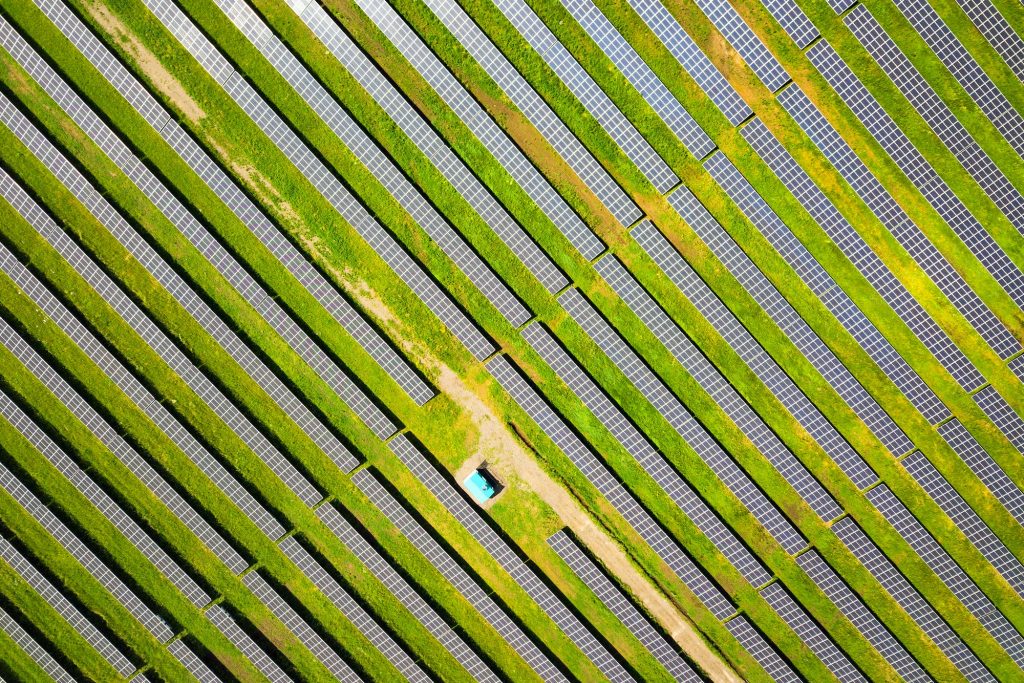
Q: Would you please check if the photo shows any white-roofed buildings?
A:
No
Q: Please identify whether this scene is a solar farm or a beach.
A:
solar farm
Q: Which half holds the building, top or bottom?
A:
bottom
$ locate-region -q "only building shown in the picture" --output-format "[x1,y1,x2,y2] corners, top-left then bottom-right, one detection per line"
[462,460,495,503]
